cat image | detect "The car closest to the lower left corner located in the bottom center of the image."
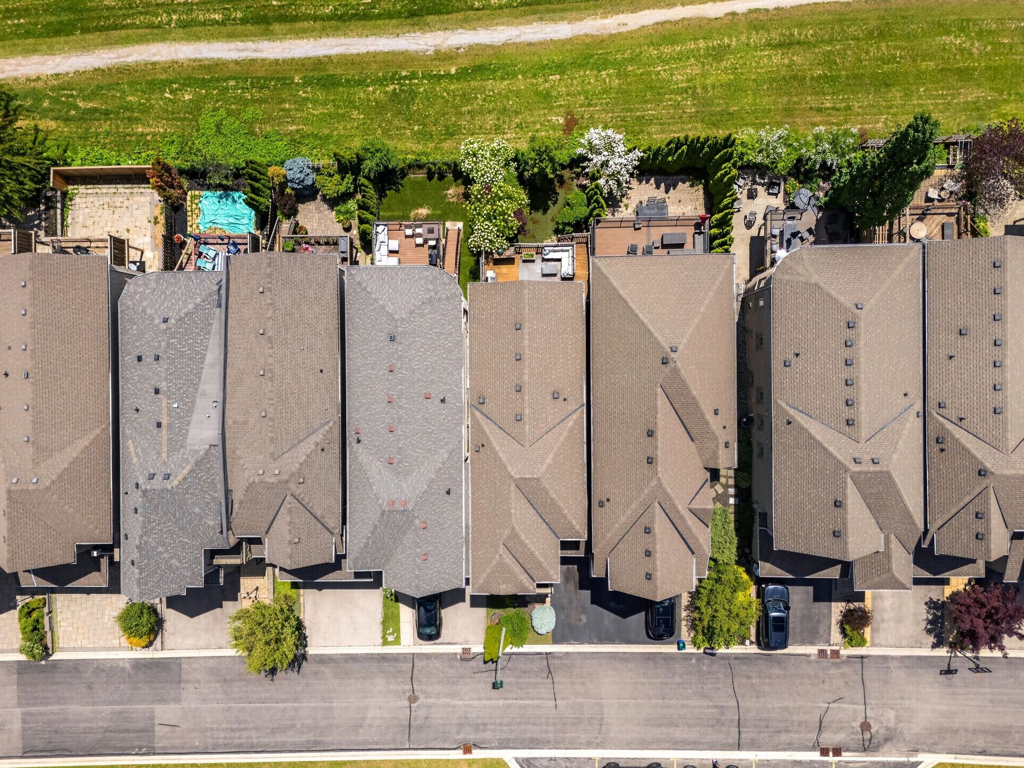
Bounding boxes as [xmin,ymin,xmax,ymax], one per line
[414,593,444,641]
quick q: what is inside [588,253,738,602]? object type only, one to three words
house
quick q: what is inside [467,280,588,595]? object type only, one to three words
house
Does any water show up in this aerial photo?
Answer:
No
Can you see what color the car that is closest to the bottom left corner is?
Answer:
black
